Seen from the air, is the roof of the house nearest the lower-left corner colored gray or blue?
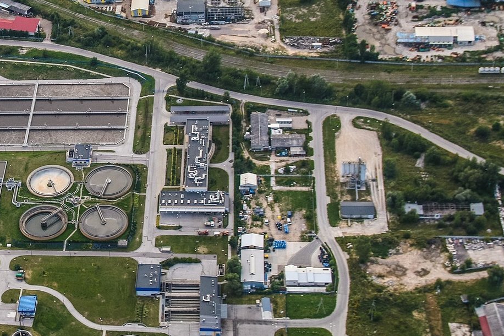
blue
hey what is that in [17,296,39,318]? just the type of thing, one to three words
house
